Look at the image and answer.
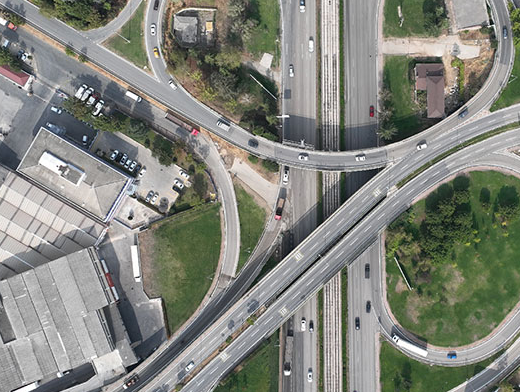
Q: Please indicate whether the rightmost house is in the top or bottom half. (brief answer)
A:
top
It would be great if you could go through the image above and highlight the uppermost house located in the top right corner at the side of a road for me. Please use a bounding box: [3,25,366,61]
[449,0,491,33]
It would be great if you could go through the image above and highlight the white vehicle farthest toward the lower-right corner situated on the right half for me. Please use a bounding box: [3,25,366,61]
[390,333,428,357]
